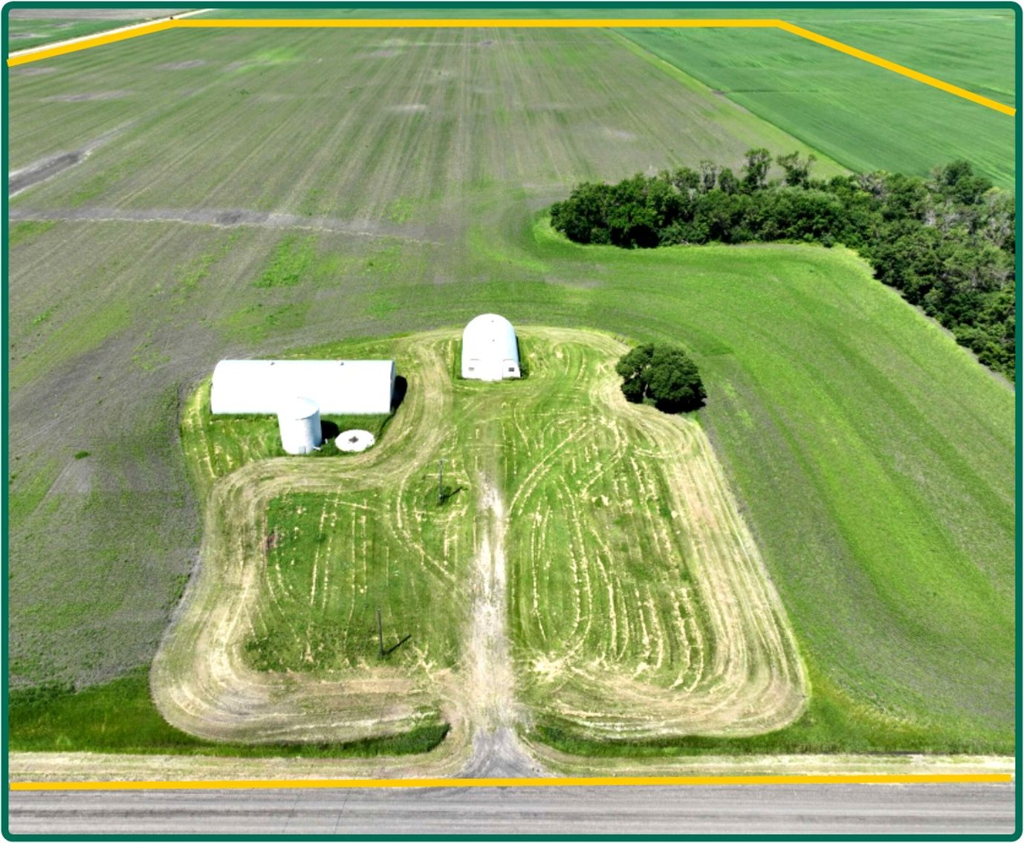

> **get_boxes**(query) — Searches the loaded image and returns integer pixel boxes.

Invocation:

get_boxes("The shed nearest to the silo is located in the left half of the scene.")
[210,361,401,414]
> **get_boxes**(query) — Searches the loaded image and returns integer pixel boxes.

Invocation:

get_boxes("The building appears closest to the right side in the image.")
[462,313,520,381]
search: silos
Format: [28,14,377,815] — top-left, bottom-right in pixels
[274,397,322,454]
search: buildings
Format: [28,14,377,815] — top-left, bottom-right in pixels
[210,361,401,414]
[462,313,520,381]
